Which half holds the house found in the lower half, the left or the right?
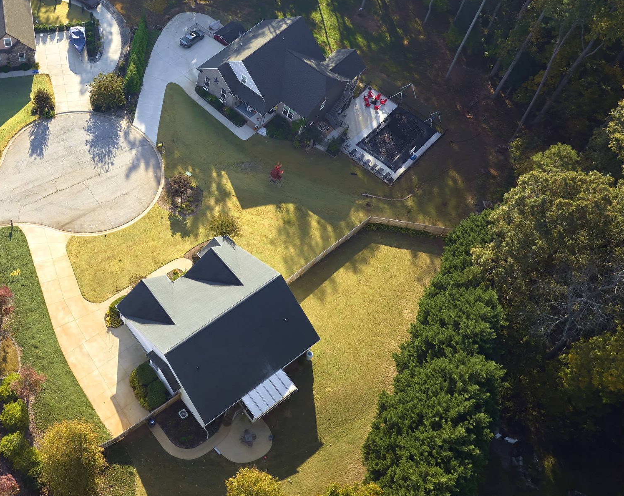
left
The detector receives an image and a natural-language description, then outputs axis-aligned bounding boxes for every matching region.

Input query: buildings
[196,15,368,132]
[113,234,319,449]
[0,0,35,65]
